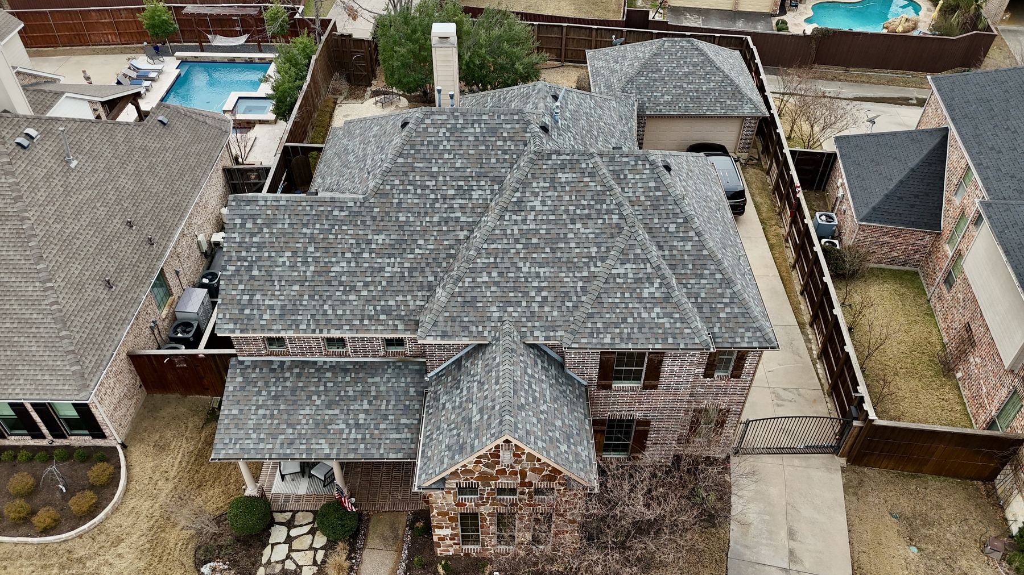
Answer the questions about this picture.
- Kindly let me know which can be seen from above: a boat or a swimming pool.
swimming pool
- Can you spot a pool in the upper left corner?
Yes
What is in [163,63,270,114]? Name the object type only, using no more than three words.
swimming pool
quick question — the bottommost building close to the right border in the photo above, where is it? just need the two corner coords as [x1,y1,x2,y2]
[831,67,1024,509]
